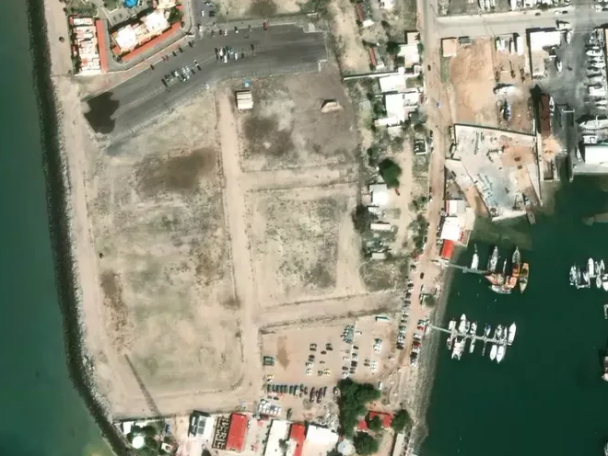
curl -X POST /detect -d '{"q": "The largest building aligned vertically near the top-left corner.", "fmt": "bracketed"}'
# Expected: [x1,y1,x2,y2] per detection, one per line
[70,17,102,78]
